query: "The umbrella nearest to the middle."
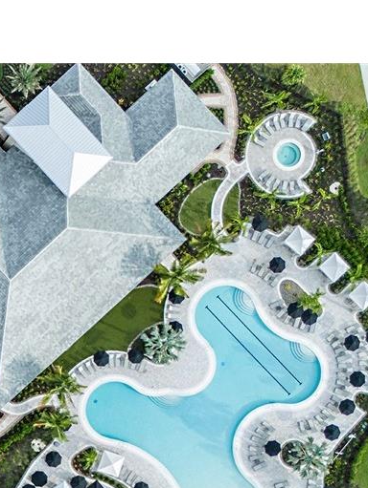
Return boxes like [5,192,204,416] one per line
[168,287,185,305]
